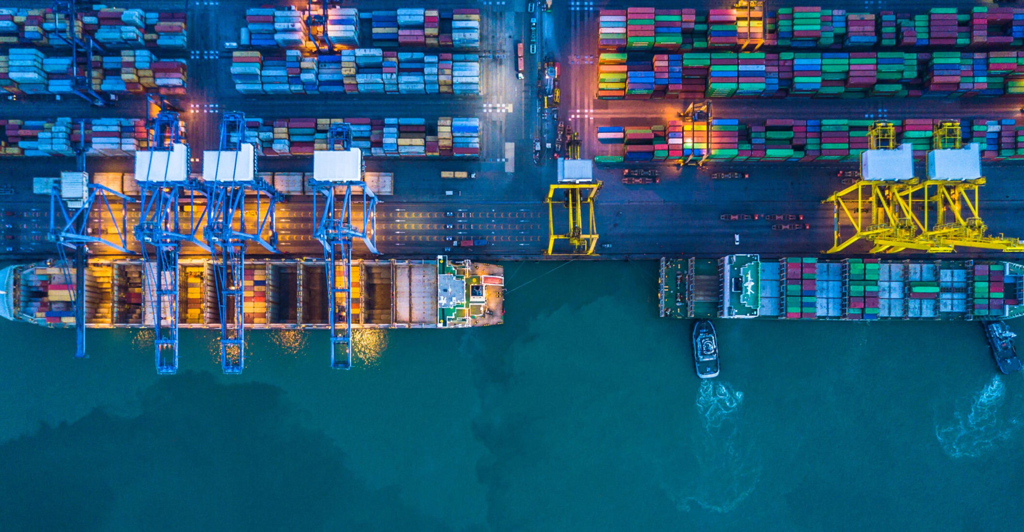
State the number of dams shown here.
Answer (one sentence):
Not a single dam can be seen.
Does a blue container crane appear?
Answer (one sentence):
Yes, a blue container crane can be made out from above.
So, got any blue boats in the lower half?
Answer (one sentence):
Yes, looking in the lower half, one can make out a blue boat.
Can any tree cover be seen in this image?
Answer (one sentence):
No, there's no tree cover in this view.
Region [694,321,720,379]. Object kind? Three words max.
boat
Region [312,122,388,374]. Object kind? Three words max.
container crane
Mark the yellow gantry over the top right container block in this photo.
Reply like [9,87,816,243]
[735,0,766,53]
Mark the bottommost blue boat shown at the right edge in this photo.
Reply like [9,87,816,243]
[983,319,1024,378]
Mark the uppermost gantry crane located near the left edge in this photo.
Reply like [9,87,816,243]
[50,0,92,53]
